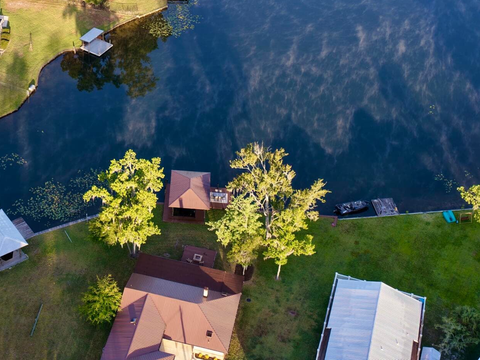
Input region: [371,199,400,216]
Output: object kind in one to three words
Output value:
pier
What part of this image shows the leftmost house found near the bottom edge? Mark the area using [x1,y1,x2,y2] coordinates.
[101,253,245,360]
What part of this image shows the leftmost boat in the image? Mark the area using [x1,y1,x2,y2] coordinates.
[335,200,367,213]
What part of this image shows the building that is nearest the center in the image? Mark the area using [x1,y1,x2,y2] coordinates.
[163,170,231,227]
